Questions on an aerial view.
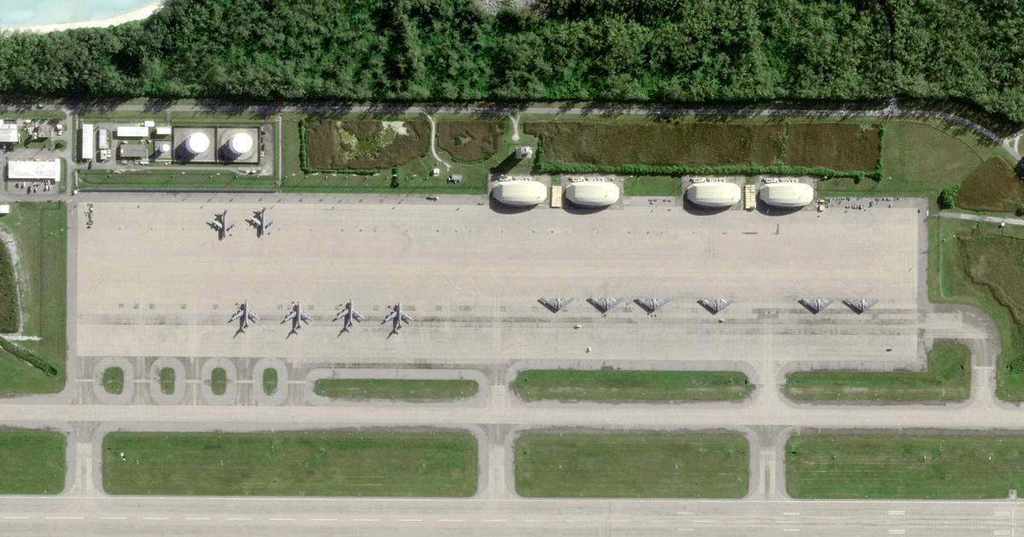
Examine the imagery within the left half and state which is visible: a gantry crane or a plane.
plane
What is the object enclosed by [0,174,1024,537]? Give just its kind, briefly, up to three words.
airport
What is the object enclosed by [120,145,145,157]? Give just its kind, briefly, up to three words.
building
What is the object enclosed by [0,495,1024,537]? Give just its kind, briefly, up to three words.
runway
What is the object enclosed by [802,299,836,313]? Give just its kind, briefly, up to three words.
airplane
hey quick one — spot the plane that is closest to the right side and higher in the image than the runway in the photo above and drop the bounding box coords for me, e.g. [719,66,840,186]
[846,299,880,313]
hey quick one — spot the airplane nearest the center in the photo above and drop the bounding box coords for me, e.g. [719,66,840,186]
[542,298,575,311]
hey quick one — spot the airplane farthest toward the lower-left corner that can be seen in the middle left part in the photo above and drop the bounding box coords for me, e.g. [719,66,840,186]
[233,300,260,326]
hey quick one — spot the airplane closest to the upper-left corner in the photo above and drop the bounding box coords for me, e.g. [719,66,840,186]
[213,210,239,238]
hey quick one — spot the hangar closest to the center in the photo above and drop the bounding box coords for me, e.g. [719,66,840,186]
[492,182,546,208]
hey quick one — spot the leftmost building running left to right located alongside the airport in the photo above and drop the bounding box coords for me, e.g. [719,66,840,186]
[7,161,55,178]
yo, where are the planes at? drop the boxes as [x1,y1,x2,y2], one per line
[542,298,575,311]
[233,300,260,326]
[802,299,836,313]
[286,302,312,328]
[338,300,365,326]
[251,208,277,235]
[387,303,413,329]
[590,298,624,311]
[637,298,671,311]
[701,299,735,313]
[213,210,239,238]
[846,299,880,313]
